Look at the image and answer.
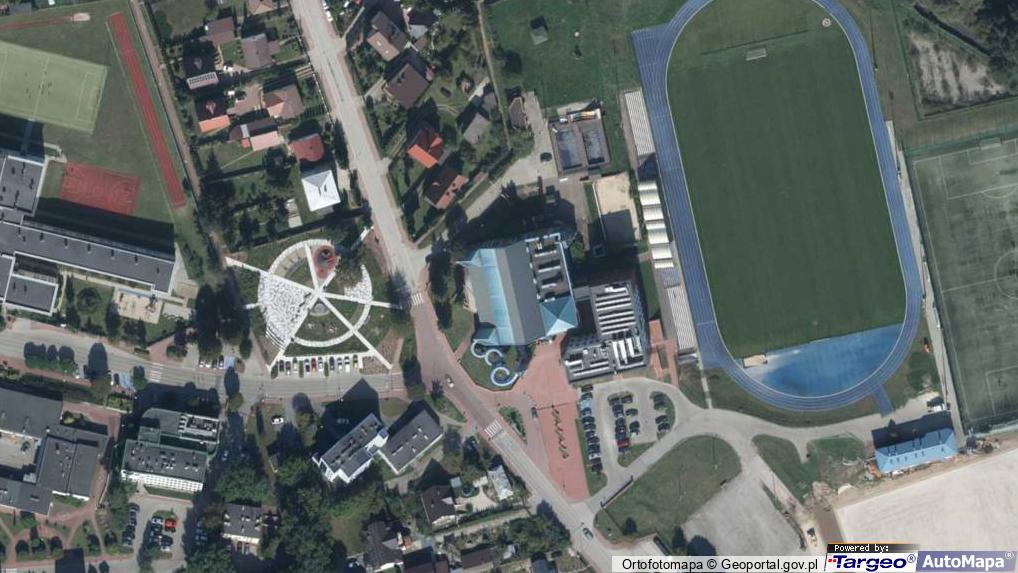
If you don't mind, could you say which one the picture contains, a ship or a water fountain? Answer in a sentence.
It is a water fountain that can be seen here.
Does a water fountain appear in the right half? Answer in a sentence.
No, I see no water fountain in the right half.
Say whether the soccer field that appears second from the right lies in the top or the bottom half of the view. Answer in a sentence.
The soccer field that appears second from the right sits in the top half of the picture.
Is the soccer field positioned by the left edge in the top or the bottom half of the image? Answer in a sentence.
The soccer field positioned by the left edge is in the top half of the image.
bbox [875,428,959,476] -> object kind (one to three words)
building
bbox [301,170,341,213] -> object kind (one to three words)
house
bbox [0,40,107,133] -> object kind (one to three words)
soccer field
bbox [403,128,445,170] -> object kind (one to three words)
house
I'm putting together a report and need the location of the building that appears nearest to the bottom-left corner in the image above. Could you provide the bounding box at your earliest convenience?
[0,387,110,518]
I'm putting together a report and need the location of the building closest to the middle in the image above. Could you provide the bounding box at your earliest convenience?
[456,233,578,355]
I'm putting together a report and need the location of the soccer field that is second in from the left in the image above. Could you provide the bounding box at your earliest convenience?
[669,34,903,358]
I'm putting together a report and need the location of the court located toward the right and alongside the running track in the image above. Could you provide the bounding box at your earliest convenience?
[593,173,638,241]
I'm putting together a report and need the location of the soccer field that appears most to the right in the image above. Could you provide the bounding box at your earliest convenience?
[907,128,1018,442]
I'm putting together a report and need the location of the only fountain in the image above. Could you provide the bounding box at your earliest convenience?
[308,242,334,280]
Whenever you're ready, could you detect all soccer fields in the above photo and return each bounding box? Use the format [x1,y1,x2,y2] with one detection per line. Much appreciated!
[669,34,903,358]
[0,40,107,133]
[907,128,1018,442]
